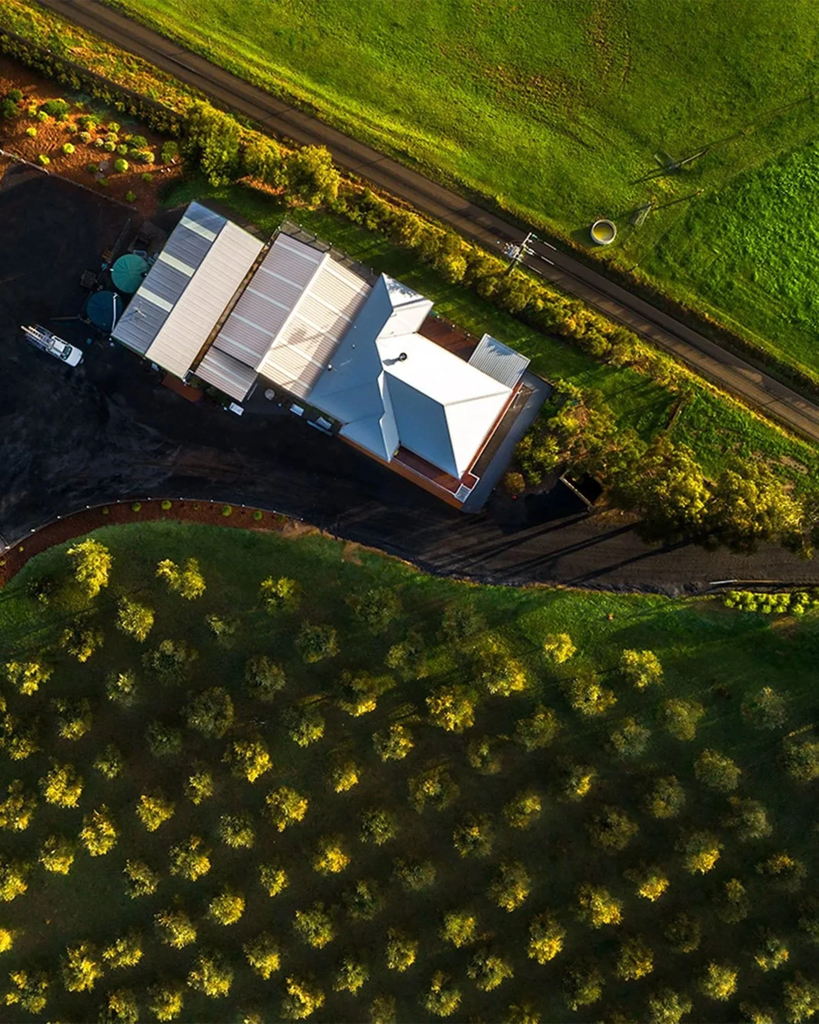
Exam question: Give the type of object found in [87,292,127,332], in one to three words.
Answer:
water tank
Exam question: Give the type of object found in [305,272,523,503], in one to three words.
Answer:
house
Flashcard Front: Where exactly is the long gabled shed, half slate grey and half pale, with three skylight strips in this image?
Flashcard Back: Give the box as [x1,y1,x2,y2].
[113,200,268,381]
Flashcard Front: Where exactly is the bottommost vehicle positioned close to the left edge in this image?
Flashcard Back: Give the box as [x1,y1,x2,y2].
[22,322,82,366]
